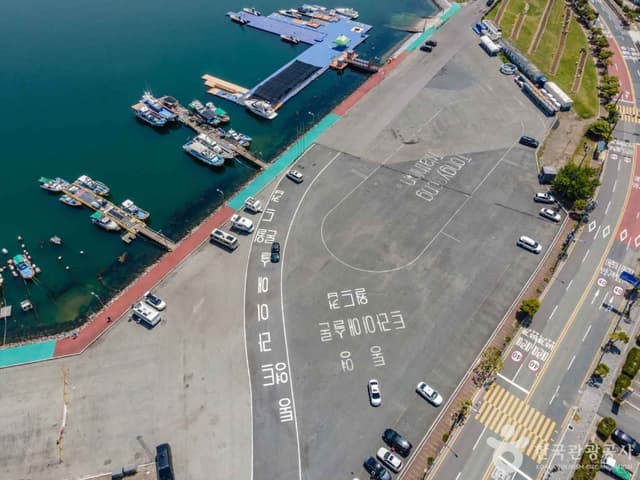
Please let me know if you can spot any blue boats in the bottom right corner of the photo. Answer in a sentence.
No, there is no blue boat in the bottom right corner of the photo.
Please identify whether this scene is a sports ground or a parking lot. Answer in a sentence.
This image shows a parking lot.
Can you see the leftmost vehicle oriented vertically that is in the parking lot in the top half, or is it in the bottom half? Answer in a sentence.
You can find the leftmost vehicle oriented vertically that is in the parking lot in the bottom half.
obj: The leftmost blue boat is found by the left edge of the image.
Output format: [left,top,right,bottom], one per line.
[14,251,34,279]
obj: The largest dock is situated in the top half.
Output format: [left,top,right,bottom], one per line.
[226,10,372,108]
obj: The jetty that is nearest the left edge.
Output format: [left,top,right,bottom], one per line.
[61,182,147,232]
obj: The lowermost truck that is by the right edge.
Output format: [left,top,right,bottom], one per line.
[597,452,635,480]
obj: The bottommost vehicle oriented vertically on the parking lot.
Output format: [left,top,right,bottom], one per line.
[156,439,176,480]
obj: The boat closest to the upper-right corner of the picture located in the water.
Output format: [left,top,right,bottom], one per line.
[336,5,361,18]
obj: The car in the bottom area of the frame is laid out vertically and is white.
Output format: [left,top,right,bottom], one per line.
[369,378,382,407]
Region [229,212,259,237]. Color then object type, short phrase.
white vehicle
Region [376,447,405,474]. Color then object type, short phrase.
white car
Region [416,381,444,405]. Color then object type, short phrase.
white car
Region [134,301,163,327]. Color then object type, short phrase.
white vehicle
